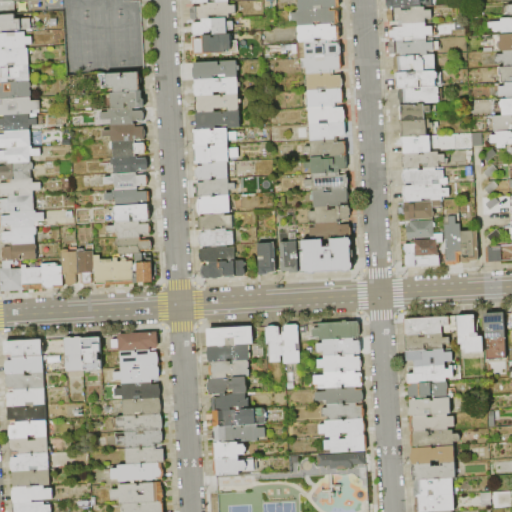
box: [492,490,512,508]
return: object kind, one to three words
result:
shed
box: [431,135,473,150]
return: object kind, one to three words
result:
building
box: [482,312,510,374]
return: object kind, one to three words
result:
building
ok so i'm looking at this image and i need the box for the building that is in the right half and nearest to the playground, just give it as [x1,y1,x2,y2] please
[317,452,366,470]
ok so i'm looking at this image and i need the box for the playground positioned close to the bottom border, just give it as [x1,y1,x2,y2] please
[312,473,368,512]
